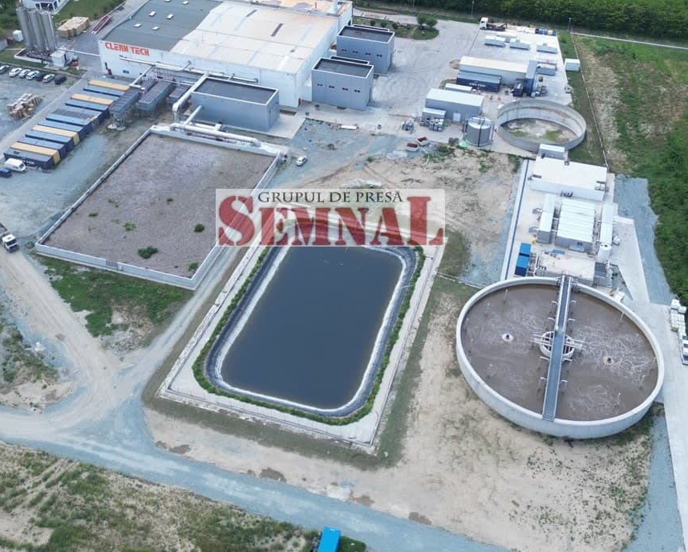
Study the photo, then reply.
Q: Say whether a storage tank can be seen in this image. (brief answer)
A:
Yes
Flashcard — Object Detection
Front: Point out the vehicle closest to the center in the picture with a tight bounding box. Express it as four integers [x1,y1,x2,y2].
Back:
[293,155,309,167]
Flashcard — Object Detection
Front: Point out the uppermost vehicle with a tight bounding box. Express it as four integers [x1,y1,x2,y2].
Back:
[480,16,505,32]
